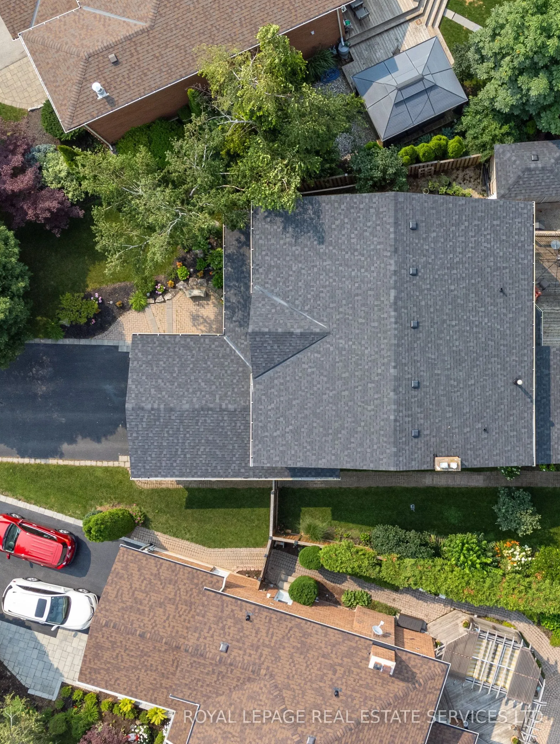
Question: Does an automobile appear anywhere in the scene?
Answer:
Yes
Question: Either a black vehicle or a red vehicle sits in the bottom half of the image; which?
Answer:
red vehicle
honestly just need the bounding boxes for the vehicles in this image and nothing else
[0,575,98,632]
[0,512,81,570]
